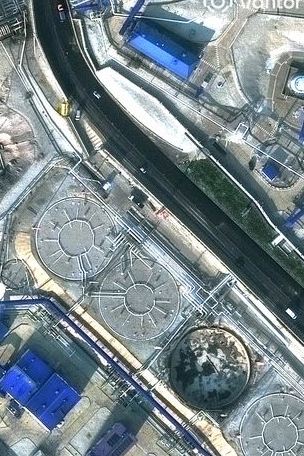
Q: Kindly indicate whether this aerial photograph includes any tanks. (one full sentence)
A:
Yes, the frame does contain a tank.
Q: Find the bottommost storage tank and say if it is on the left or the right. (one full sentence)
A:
You can find the bottommost storage tank on the right side of the picture.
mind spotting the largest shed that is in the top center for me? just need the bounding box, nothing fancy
[127,25,200,81]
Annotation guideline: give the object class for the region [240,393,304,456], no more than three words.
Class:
storage tank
